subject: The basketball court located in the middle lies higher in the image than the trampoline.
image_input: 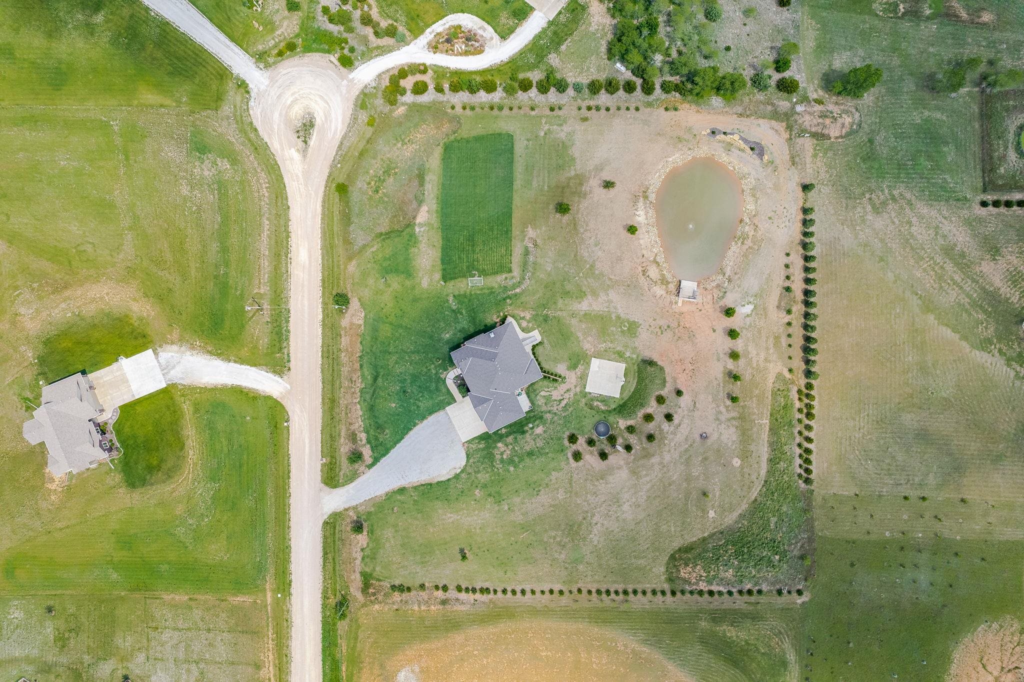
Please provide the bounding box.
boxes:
[586,358,626,397]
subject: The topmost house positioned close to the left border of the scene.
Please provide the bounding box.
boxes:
[18,372,116,481]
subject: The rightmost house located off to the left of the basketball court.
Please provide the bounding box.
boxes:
[450,320,545,435]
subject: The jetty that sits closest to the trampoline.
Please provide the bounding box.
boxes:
[678,280,701,301]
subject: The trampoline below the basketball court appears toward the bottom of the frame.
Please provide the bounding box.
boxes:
[594,421,612,439]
